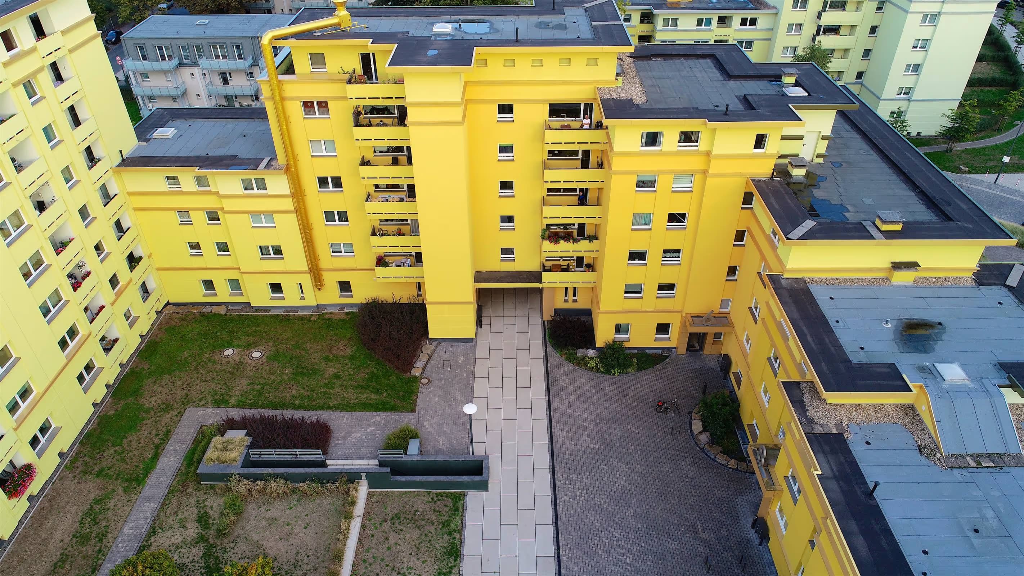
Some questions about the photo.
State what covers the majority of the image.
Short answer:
buildings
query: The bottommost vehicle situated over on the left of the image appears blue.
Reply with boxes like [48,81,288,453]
[104,27,121,40]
